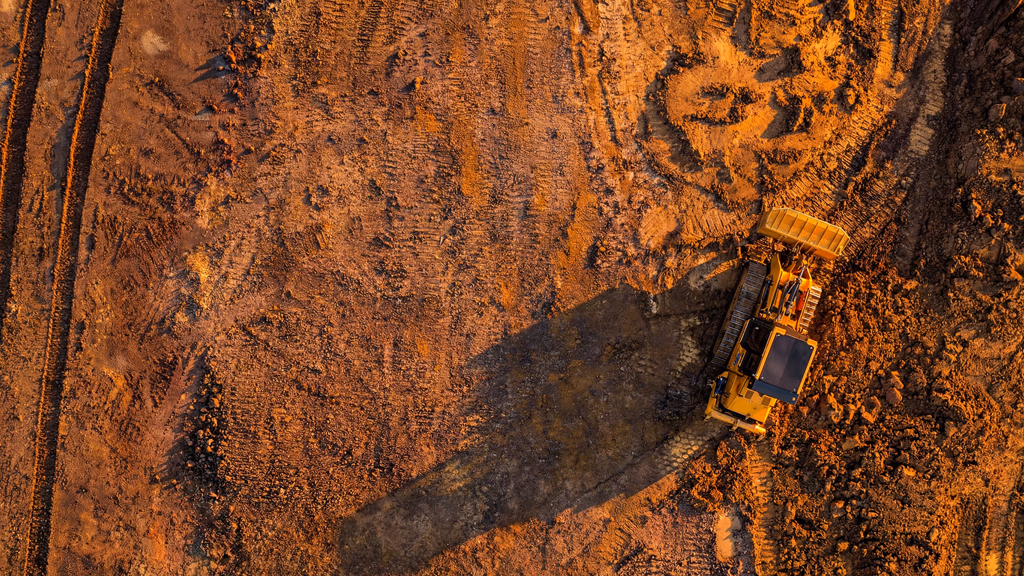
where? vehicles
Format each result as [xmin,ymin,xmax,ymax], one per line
[698,209,847,439]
